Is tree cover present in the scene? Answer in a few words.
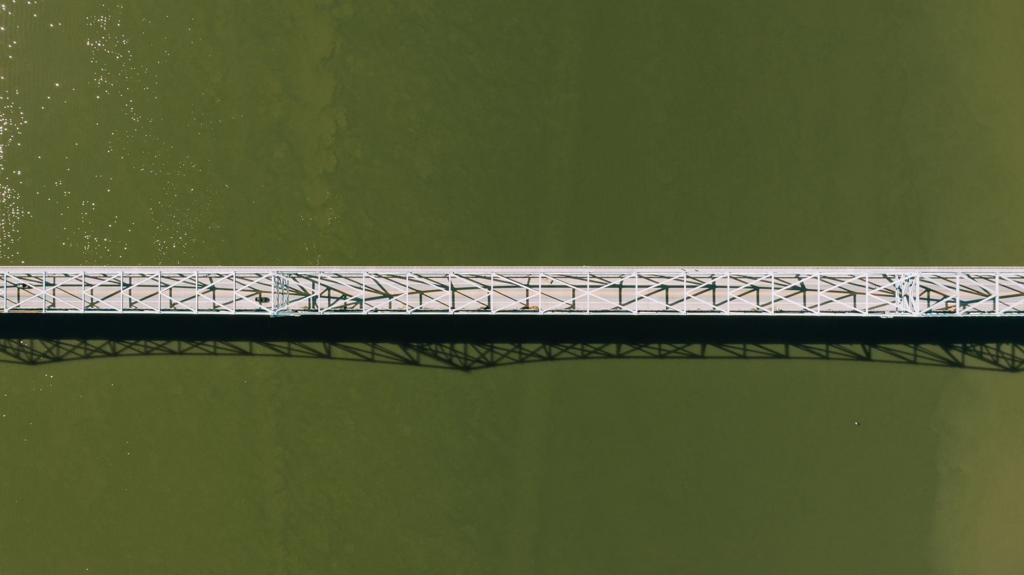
No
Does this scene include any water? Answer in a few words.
Yes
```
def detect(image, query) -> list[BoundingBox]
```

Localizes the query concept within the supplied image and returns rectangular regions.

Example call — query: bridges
[0,265,1024,319]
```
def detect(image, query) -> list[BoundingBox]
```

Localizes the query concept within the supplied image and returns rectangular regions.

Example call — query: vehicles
[255,297,270,303]
[16,283,30,289]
